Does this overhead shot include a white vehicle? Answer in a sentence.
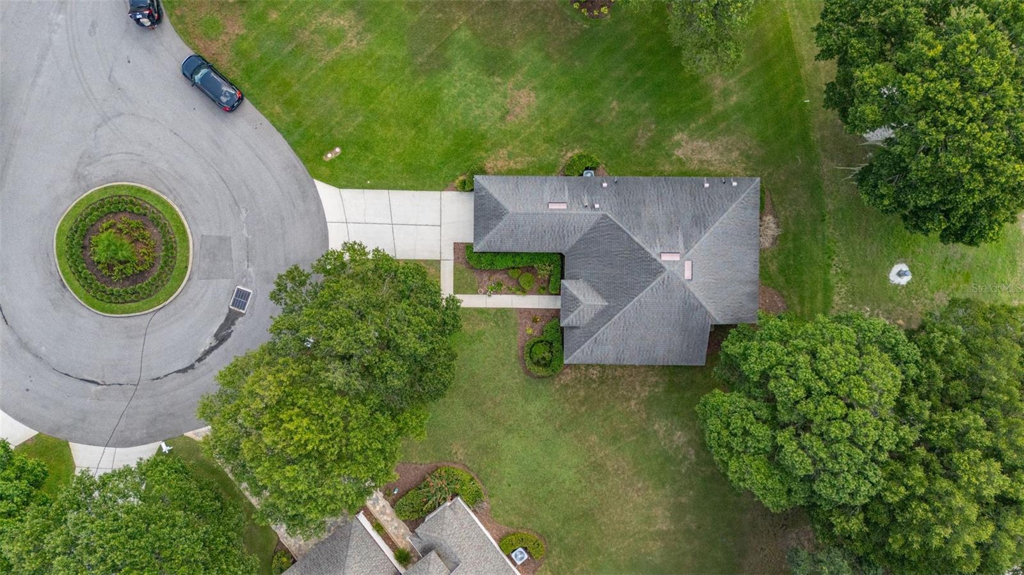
No, the frame has no white vehicle in it.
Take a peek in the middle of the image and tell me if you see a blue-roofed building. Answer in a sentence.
No, in the middle of the image there is no blue-roofed building.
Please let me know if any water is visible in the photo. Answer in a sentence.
No, there is no water in the image.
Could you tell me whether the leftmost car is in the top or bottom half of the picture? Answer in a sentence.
The leftmost car sits in the top half of the picture.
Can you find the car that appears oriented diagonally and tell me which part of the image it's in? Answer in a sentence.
The car that appears oriented diagonally appears toward the top left of the photo.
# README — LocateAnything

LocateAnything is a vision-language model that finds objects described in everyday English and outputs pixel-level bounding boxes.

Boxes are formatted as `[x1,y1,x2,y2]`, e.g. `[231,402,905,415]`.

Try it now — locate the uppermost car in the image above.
[133,0,170,22]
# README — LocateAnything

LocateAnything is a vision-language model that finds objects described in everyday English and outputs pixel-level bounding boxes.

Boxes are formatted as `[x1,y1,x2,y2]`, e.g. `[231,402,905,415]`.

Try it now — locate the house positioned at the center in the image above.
[472,174,761,366]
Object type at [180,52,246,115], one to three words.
car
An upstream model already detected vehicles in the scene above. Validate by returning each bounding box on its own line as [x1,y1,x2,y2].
[180,52,246,115]
[133,0,170,22]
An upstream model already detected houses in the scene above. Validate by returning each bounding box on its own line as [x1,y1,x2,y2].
[280,495,527,575]
[472,174,761,366]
